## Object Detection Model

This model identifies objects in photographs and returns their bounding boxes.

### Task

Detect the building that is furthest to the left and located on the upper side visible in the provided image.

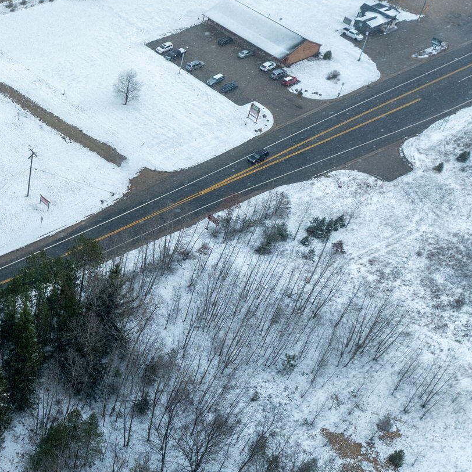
[203,0,324,66]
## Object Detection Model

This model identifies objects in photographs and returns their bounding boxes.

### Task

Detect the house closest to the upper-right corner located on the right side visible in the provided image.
[353,0,408,38]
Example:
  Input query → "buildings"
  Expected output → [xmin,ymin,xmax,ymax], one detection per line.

[353,0,408,38]
[203,0,324,66]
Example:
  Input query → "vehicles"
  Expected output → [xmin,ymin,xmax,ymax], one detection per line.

[260,62,277,70]
[343,28,364,40]
[281,76,299,85]
[156,41,173,52]
[217,35,235,47]
[208,73,226,84]
[166,49,186,60]
[271,69,288,79]
[250,149,270,163]
[222,83,239,93]
[238,50,255,59]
